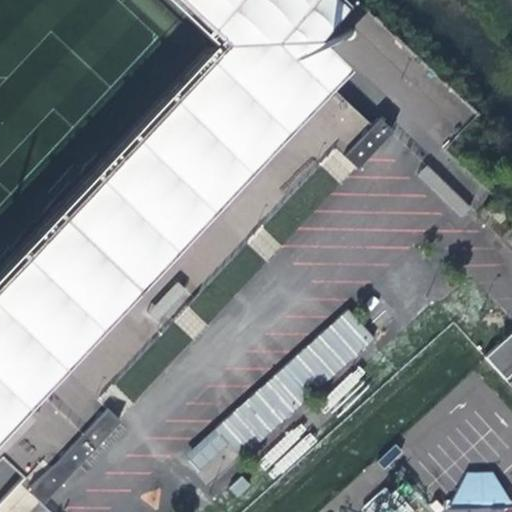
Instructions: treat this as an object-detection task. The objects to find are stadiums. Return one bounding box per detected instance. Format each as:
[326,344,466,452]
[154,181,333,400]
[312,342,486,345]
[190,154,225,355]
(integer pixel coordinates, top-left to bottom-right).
[0,0,356,450]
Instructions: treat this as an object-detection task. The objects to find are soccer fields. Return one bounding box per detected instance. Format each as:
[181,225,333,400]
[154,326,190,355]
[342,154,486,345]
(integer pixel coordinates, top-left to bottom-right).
[0,0,189,230]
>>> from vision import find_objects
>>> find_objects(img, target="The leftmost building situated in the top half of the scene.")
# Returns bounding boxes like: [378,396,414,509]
[344,118,394,168]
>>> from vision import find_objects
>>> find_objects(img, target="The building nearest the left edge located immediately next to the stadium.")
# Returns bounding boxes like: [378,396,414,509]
[30,408,120,500]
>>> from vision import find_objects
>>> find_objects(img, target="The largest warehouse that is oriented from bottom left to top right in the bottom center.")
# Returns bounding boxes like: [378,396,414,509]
[189,310,374,482]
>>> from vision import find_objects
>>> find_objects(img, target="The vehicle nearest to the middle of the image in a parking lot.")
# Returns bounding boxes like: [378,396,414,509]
[364,296,381,314]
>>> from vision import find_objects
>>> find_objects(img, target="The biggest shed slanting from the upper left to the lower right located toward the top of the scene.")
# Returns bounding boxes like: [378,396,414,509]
[418,166,472,218]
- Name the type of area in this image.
sports ground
